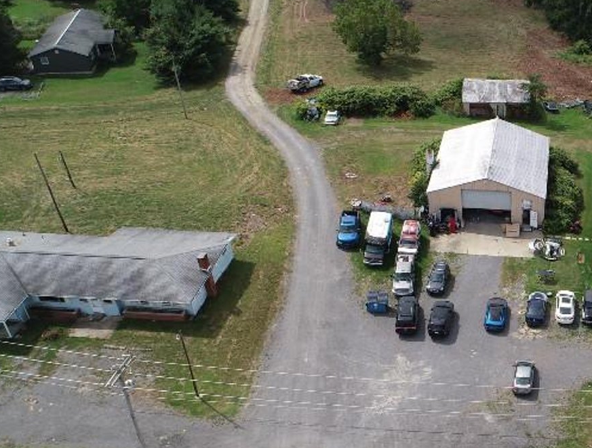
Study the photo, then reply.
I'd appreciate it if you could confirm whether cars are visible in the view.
Yes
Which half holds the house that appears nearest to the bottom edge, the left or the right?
left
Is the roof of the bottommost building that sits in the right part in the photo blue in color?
No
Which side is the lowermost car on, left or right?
right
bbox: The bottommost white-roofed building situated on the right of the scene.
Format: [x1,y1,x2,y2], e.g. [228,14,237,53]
[428,117,552,230]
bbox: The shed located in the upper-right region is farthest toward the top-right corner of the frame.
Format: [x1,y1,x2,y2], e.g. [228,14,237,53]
[462,79,532,118]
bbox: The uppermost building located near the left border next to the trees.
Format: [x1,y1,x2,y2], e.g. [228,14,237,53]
[24,6,132,74]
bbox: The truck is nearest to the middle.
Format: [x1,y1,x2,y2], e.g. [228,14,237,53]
[335,214,361,248]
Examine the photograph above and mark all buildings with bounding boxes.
[0,229,243,351]
[428,117,552,230]
[462,79,532,118]
[24,6,132,74]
